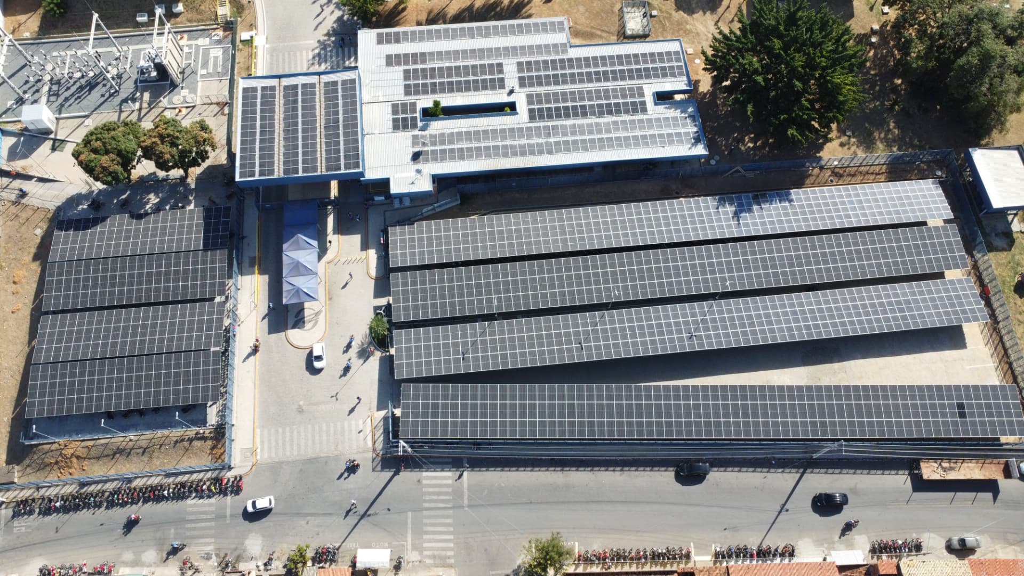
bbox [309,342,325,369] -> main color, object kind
white car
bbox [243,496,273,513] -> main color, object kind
white car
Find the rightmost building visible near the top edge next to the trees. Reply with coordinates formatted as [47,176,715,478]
[357,16,710,208]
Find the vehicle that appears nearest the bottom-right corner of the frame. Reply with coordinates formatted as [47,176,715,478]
[947,537,986,554]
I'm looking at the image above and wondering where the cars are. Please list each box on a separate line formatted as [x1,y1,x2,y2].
[812,493,852,510]
[675,462,711,479]
[947,537,986,554]
[243,496,273,513]
[309,342,325,369]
